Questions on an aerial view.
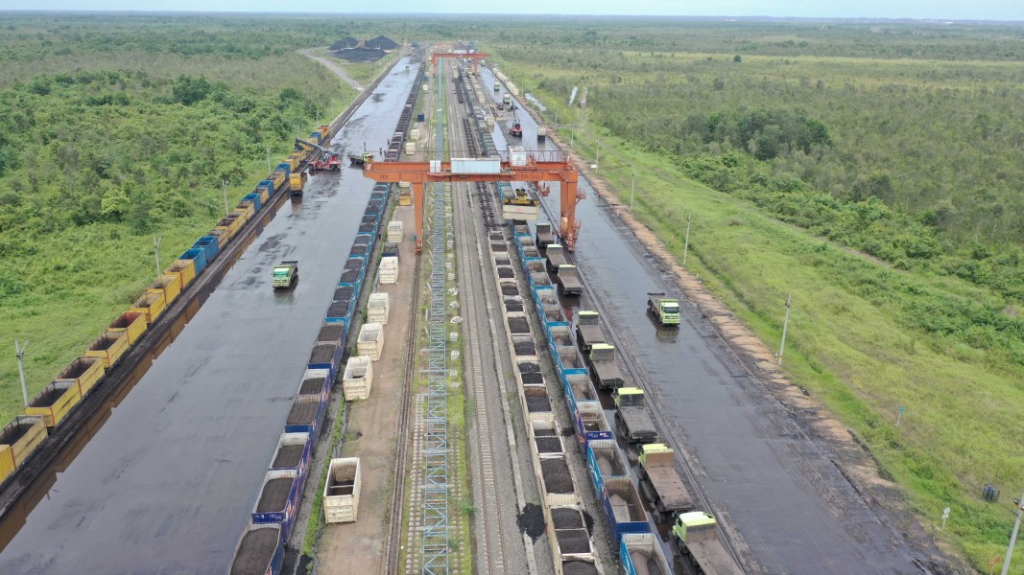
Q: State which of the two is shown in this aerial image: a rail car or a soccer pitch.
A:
rail car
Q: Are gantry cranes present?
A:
Yes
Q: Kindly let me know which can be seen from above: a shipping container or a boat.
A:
shipping container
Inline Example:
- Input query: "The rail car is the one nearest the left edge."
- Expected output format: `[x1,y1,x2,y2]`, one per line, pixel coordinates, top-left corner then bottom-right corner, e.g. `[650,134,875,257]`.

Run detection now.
[0,437,48,491]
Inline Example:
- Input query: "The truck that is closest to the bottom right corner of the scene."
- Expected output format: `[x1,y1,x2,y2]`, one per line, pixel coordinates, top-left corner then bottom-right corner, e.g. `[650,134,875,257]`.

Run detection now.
[669,511,730,575]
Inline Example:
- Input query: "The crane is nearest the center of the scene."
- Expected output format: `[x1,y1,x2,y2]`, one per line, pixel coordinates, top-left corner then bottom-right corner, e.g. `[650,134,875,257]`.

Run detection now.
[362,139,589,250]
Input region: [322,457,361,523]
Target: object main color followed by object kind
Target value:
white shipping container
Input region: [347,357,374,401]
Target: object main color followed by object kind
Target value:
white shipping container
